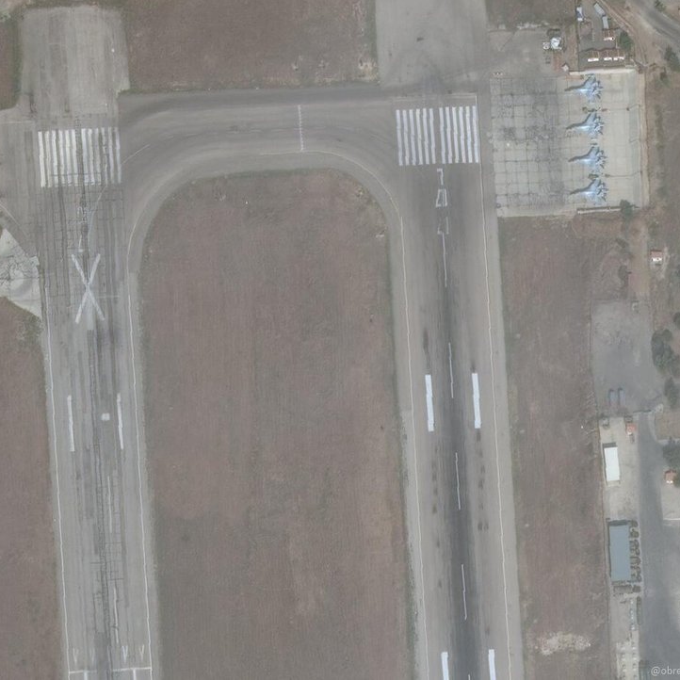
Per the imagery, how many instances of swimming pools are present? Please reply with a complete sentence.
The count of swimming pools is 0.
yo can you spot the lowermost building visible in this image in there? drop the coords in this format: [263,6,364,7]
[609,524,631,584]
